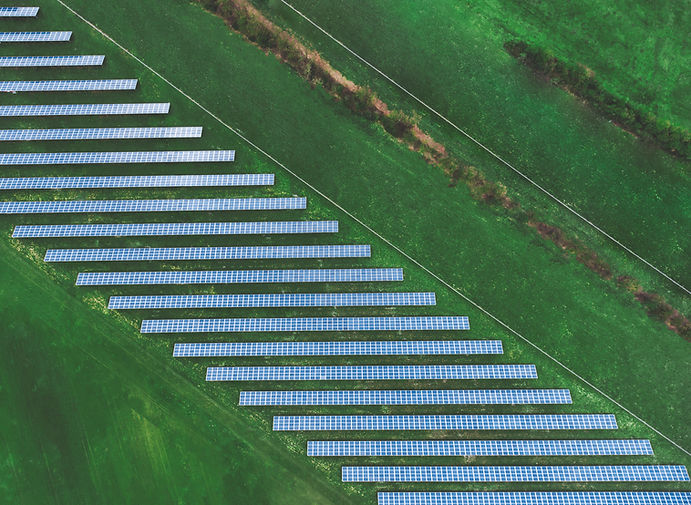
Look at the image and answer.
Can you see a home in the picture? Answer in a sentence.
No, the frame has no home in it.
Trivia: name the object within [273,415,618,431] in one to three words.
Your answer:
solar array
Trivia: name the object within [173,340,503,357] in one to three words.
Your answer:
solar array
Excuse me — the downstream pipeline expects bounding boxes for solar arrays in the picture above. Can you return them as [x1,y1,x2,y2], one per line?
[0,103,170,117]
[273,415,618,431]
[239,390,572,405]
[0,126,202,141]
[44,244,370,261]
[377,492,691,505]
[76,268,404,285]
[0,79,138,92]
[108,292,437,309]
[0,174,275,190]
[0,7,39,18]
[140,317,470,333]
[206,365,538,381]
[0,55,105,68]
[173,340,503,357]
[0,197,306,214]
[0,31,72,43]
[307,440,653,456]
[342,466,690,481]
[0,150,235,165]
[12,221,338,238]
